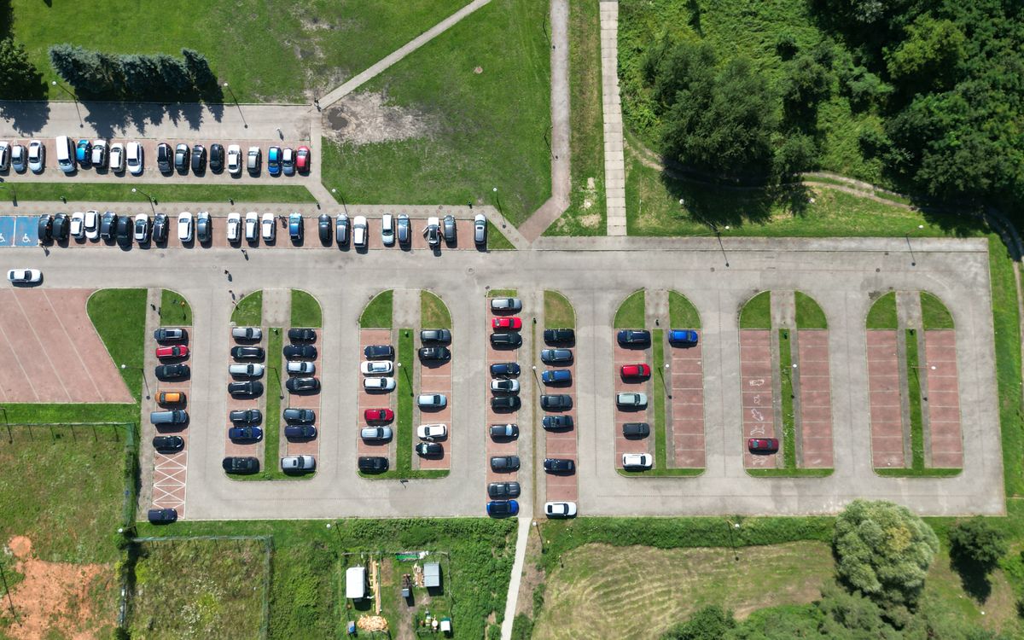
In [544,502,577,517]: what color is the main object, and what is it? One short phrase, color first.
white car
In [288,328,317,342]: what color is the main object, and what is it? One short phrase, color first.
black car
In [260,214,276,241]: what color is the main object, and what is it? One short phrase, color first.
white car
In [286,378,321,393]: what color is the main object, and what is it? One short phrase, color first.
black car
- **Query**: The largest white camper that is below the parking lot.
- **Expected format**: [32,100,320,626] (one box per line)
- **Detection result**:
[346,557,369,598]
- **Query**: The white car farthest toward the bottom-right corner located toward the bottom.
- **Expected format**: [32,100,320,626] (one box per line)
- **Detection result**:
[622,453,652,468]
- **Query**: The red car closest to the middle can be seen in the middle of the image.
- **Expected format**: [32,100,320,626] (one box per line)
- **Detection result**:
[492,316,522,330]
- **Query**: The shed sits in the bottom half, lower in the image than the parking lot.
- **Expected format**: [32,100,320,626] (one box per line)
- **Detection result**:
[424,560,440,586]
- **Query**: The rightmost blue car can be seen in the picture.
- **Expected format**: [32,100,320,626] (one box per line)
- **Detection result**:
[668,329,698,344]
